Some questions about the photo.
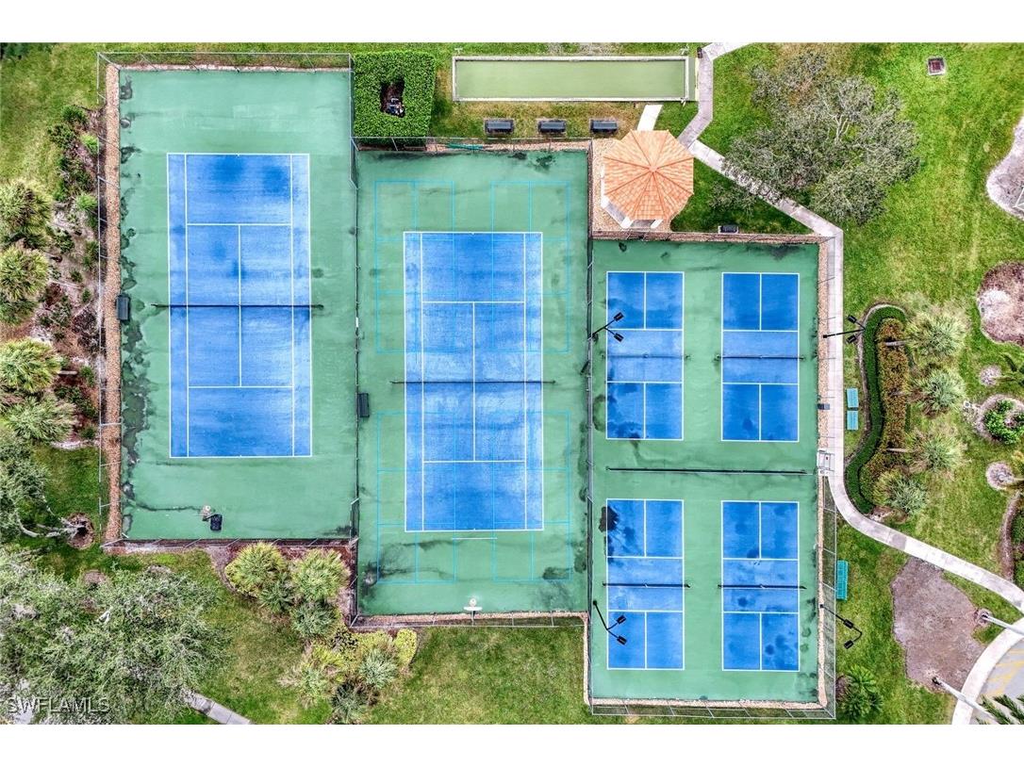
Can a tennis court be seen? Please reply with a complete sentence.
Yes, you can see a tennis court in this photo.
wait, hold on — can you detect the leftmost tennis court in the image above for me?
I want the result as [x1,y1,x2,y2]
[119,70,359,540]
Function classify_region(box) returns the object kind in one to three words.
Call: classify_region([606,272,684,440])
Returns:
sports court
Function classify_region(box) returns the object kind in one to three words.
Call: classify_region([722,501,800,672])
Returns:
sports court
